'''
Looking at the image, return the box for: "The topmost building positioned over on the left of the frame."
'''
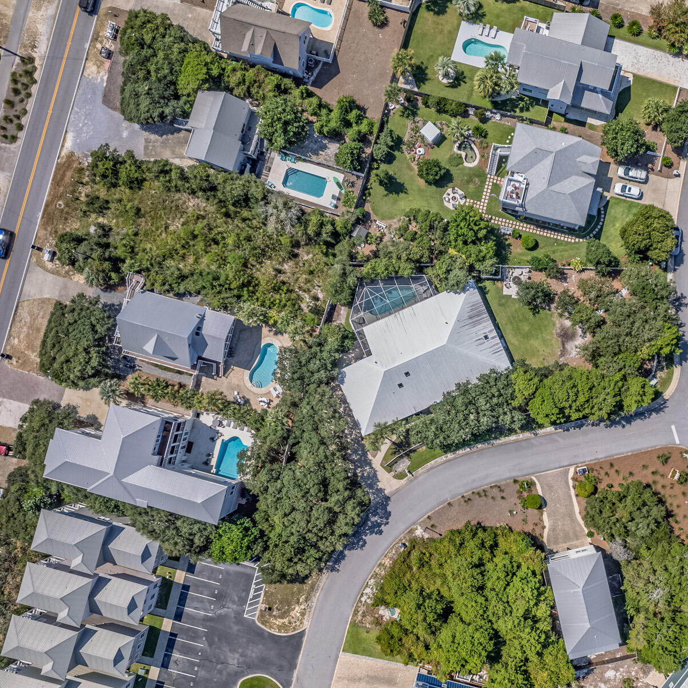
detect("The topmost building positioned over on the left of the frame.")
[209,0,316,77]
